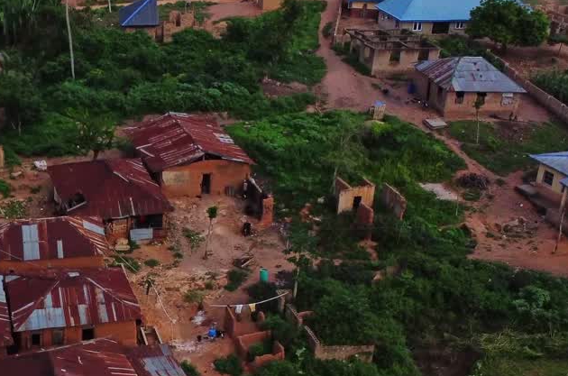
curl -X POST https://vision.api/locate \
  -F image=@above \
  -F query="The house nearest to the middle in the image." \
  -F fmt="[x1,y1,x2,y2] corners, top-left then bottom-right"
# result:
[124,111,257,197]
